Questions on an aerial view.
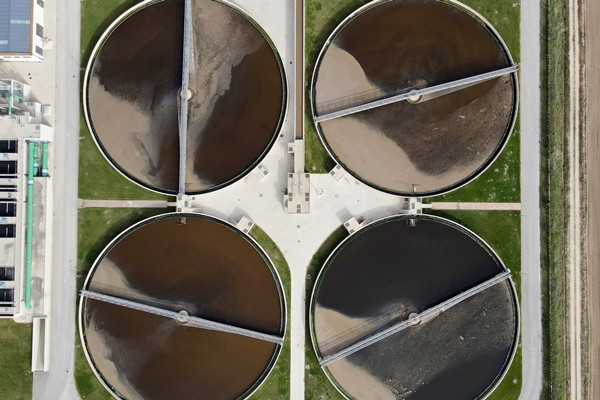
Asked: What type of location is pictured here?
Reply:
industrial area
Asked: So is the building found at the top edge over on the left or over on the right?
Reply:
left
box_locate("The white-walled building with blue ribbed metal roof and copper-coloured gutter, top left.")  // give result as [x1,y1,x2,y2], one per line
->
[0,0,43,61]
